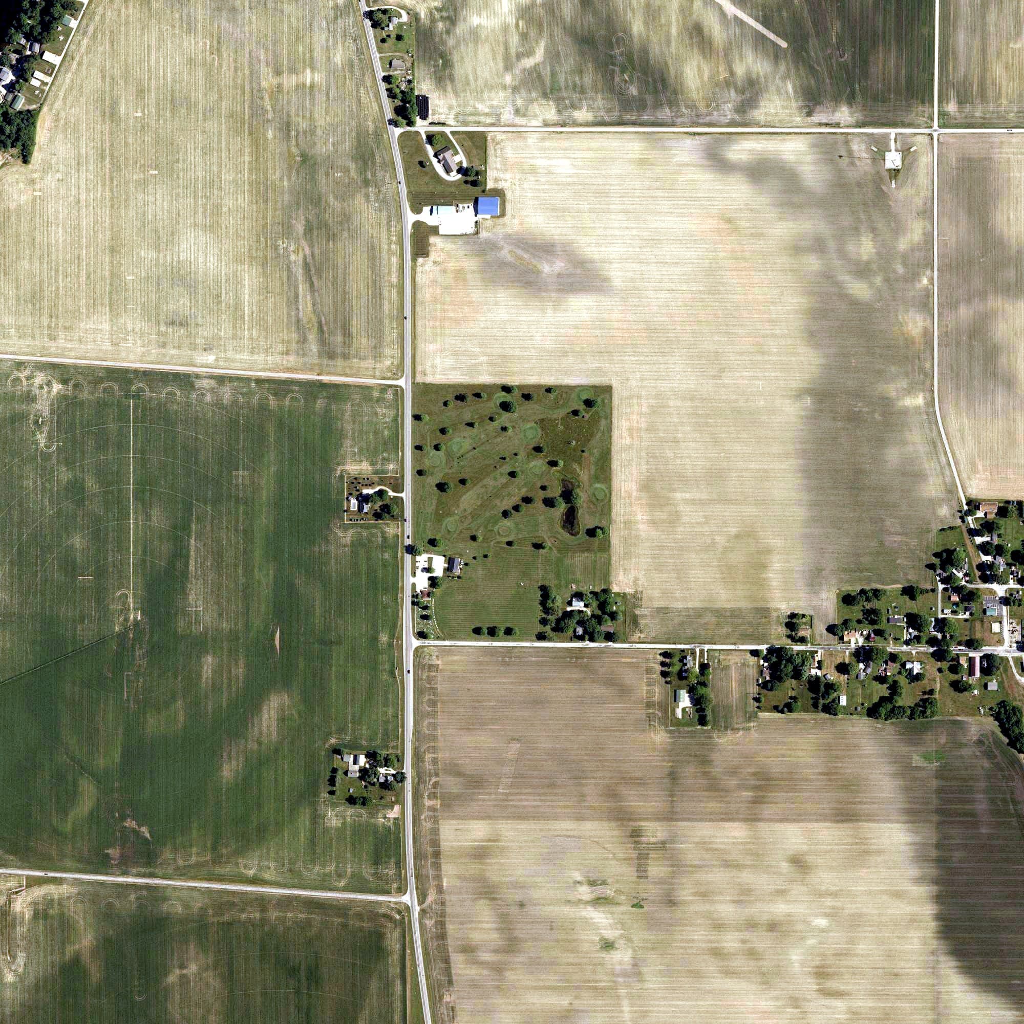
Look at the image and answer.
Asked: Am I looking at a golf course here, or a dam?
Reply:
golf course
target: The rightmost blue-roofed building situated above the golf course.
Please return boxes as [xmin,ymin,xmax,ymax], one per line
[478,196,498,214]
